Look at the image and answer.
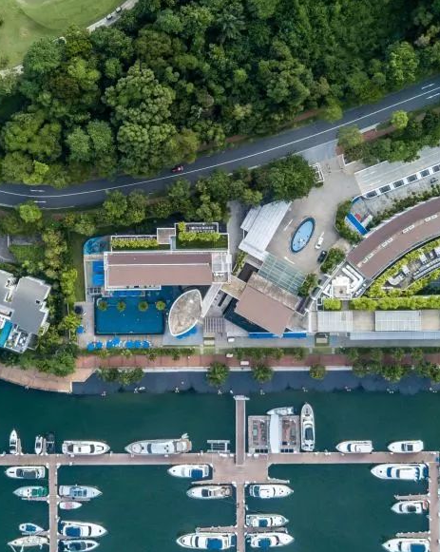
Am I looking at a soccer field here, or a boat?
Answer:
boat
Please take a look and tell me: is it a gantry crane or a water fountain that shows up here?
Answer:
water fountain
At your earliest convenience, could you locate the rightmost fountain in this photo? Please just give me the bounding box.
[291,218,315,251]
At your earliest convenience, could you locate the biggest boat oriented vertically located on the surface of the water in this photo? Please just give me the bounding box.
[301,403,315,453]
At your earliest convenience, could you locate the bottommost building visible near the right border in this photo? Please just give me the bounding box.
[310,310,440,339]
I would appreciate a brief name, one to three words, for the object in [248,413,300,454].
building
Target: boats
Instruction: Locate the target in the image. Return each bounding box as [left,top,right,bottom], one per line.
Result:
[13,486,49,499]
[60,440,108,455]
[246,532,294,549]
[58,485,103,499]
[392,501,429,515]
[5,466,48,480]
[46,431,55,454]
[247,484,294,500]
[58,501,81,510]
[58,521,107,540]
[246,514,290,531]
[372,464,429,483]
[126,439,194,457]
[17,524,43,534]
[169,465,211,479]
[187,485,234,500]
[267,407,296,416]
[8,537,50,552]
[9,429,18,454]
[384,537,429,552]
[176,533,237,552]
[35,433,42,454]
[388,440,424,453]
[337,439,374,454]
[301,403,315,453]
